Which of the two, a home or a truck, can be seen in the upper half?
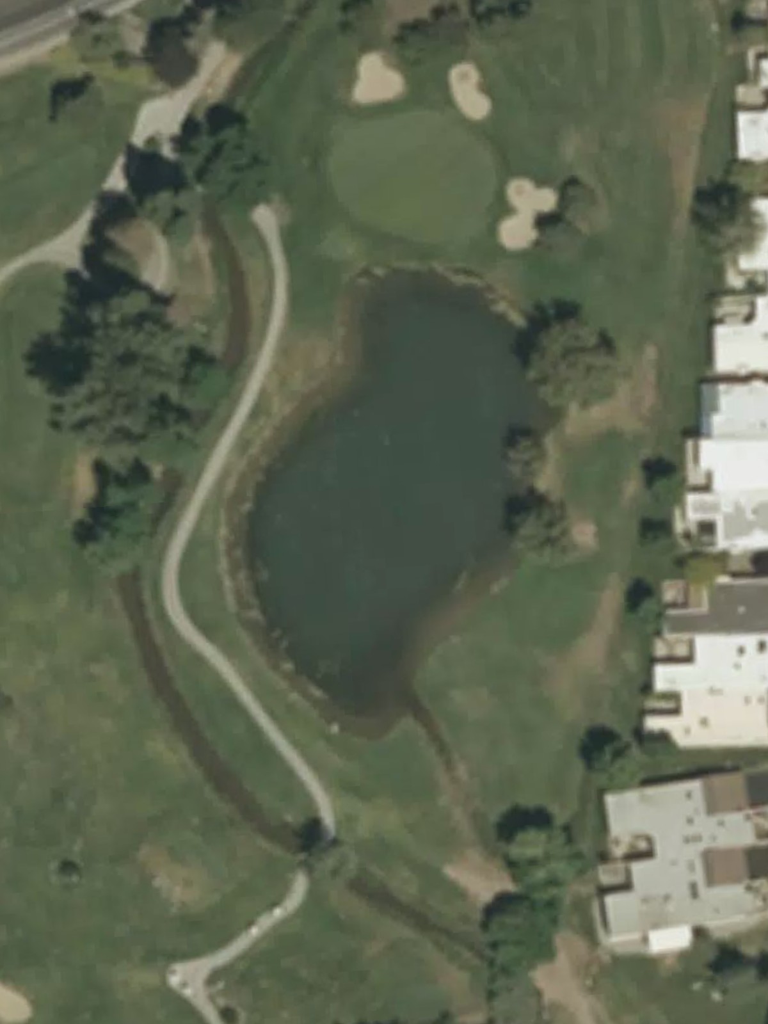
home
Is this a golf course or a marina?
golf course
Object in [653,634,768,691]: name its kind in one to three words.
house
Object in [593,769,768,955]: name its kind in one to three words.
house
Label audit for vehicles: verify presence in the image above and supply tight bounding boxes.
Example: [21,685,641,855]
[181,986,192,998]
[170,974,179,986]
[249,924,260,935]
[272,906,283,917]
